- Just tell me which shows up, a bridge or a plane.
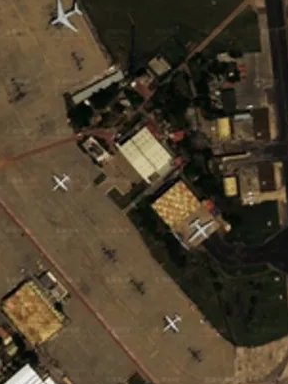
plane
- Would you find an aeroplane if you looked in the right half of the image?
Yes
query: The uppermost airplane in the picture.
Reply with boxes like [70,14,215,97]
[52,0,87,31]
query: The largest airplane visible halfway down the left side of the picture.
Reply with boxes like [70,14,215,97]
[54,173,72,192]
